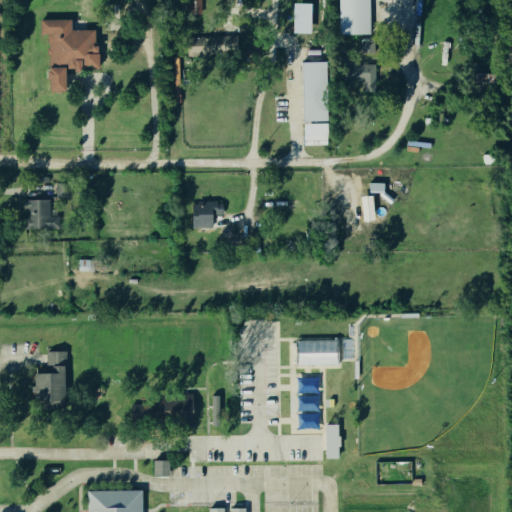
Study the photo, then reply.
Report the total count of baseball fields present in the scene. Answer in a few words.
1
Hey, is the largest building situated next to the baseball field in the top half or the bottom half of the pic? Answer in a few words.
bottom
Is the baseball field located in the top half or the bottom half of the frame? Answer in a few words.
bottom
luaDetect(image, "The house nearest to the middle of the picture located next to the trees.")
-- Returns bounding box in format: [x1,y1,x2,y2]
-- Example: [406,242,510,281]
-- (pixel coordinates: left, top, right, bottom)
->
[193,202,224,228]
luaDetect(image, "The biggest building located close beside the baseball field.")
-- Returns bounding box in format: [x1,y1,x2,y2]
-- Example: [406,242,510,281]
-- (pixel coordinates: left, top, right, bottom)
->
[298,340,340,366]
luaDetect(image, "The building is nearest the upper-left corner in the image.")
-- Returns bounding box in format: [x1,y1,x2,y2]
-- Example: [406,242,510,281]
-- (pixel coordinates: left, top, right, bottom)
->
[42,20,100,92]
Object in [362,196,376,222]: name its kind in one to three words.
house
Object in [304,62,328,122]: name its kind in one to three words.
building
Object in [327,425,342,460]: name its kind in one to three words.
building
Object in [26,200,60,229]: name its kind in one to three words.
house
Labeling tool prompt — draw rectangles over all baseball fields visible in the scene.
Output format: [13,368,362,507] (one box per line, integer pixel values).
[360,317,496,455]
